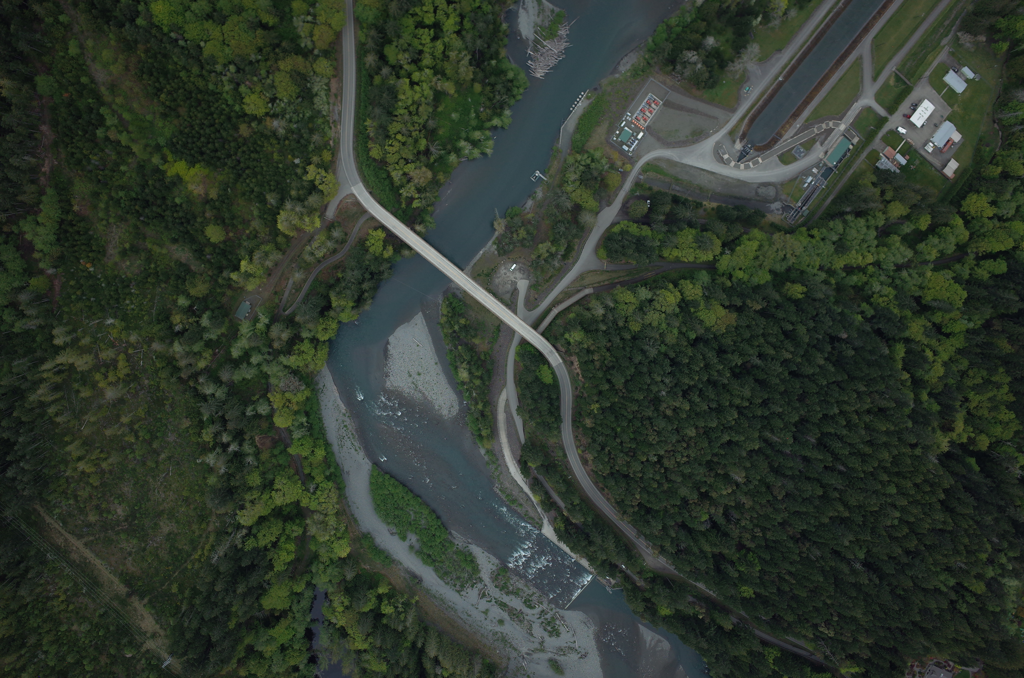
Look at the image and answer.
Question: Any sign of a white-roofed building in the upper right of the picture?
Yes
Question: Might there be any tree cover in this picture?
Yes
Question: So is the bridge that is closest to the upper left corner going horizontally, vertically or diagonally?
diagonally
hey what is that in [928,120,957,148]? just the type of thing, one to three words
shed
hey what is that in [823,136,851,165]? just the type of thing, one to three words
house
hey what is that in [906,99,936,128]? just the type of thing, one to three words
building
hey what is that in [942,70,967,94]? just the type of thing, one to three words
house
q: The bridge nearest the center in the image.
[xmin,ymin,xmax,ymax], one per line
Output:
[349,181,565,368]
